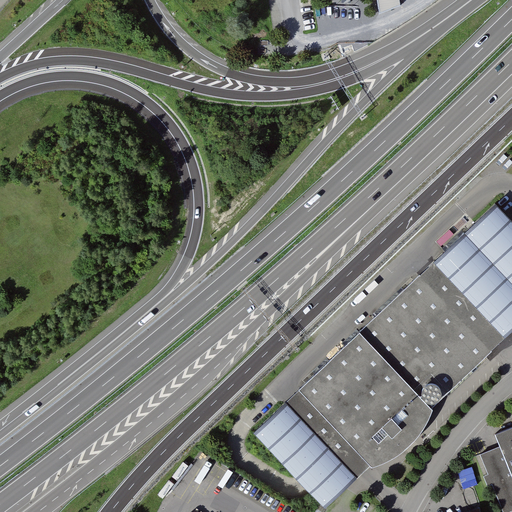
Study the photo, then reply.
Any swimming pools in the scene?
No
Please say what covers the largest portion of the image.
paved ground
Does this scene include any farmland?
No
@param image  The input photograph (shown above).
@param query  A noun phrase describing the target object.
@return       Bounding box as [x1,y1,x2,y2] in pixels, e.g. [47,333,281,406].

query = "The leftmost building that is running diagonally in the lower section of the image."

[256,402,358,508]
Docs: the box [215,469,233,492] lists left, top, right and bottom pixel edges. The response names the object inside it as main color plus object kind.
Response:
white vehicle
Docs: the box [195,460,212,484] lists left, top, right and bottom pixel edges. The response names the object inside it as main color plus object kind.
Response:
white vehicle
